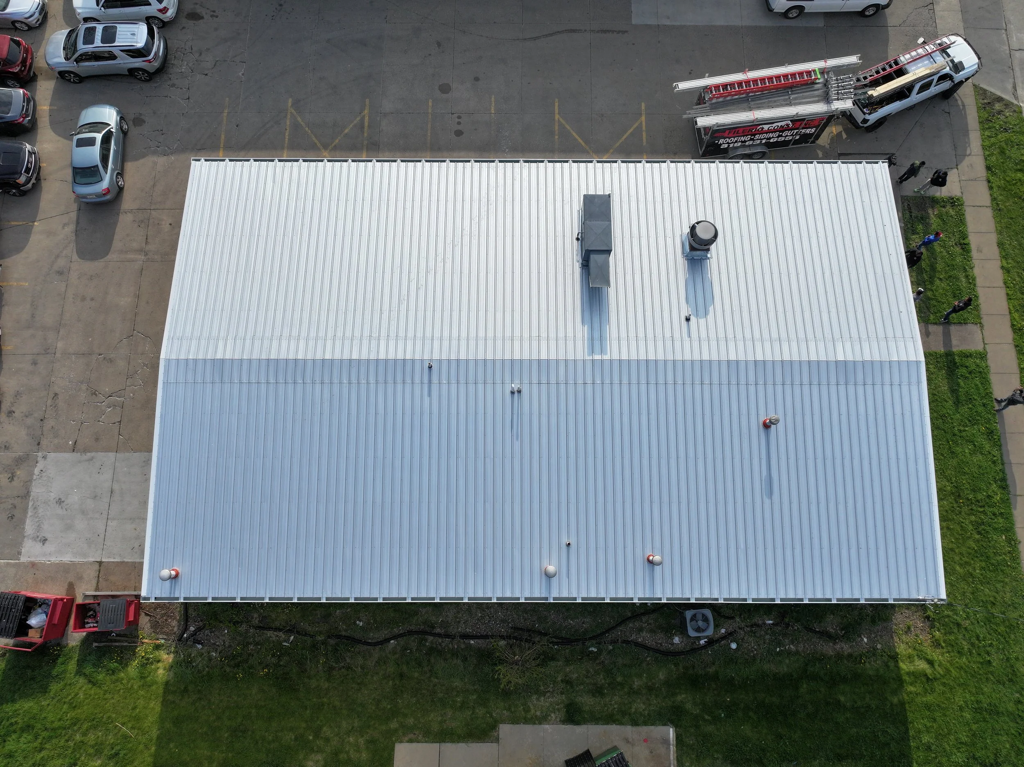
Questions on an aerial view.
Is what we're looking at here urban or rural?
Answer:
urban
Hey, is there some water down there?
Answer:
No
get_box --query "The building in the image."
[139,157,948,603]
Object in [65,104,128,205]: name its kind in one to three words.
car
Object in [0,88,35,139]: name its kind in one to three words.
car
